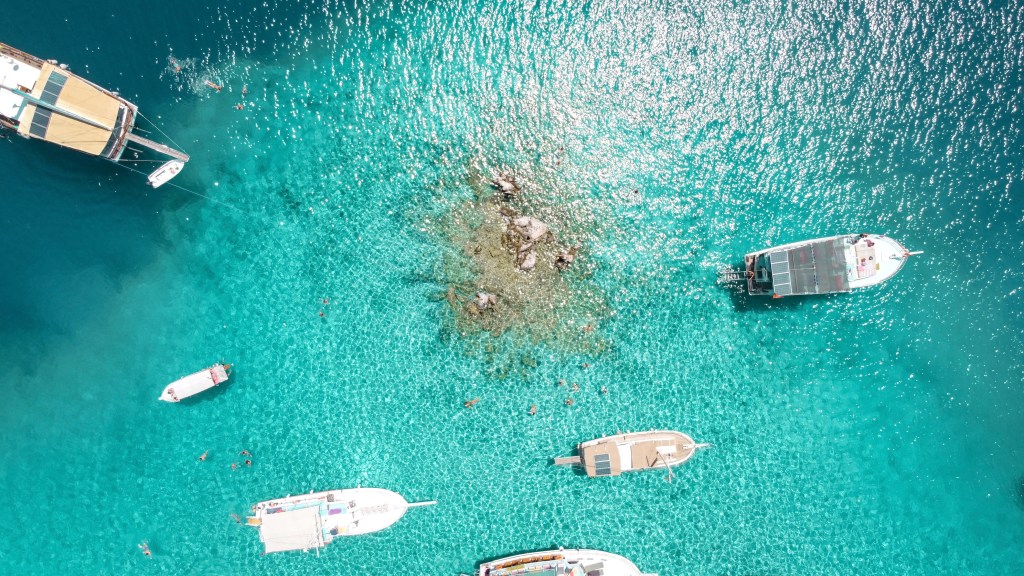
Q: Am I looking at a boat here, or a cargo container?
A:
boat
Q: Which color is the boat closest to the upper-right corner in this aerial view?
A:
white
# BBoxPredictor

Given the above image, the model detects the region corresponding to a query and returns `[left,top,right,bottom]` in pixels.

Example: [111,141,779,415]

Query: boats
[718,232,924,298]
[474,545,658,576]
[0,42,224,205]
[245,485,438,558]
[556,428,711,483]
[147,161,185,187]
